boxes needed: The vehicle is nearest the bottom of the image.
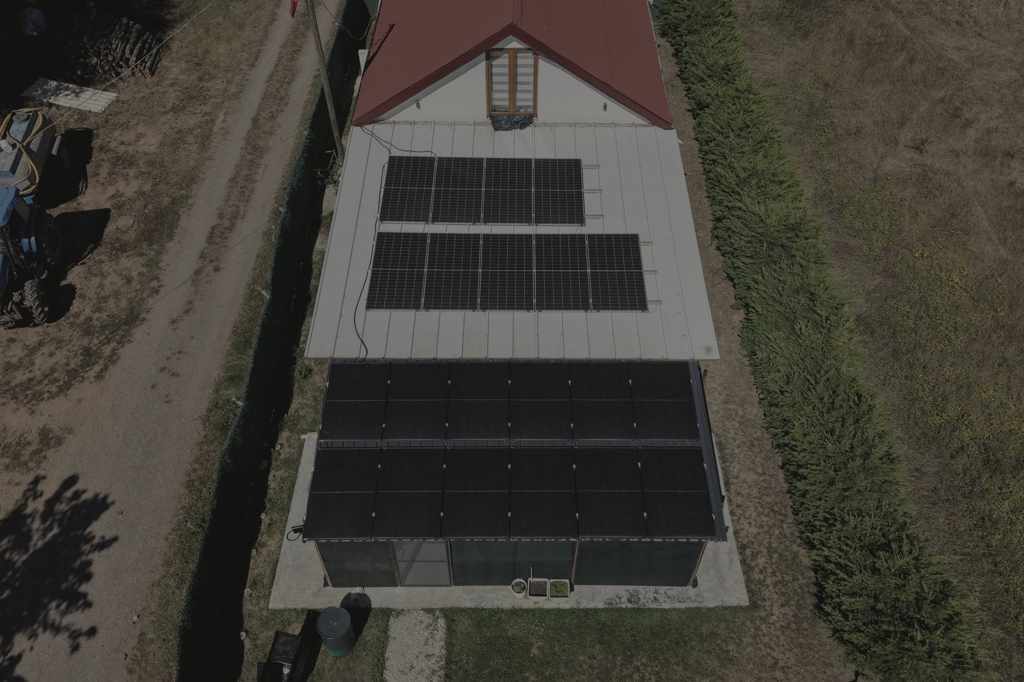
[0,182,69,323]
